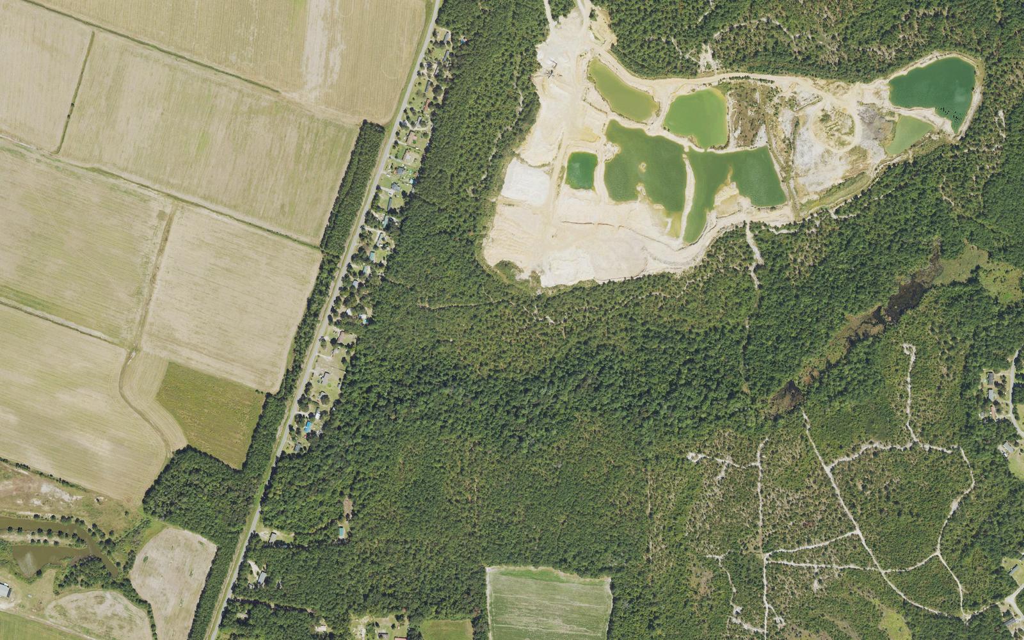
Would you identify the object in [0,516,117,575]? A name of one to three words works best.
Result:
pond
